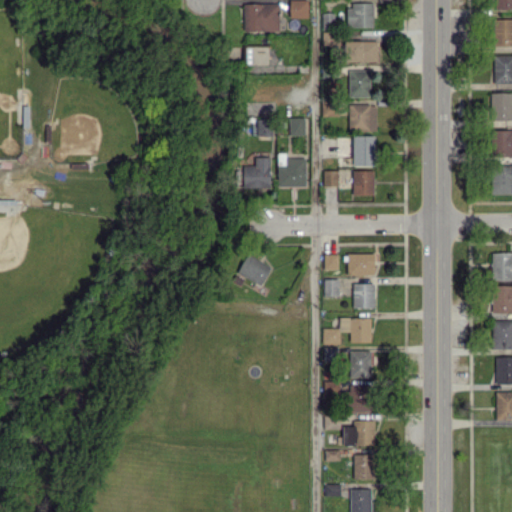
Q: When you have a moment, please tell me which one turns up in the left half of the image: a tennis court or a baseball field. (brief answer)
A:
baseball field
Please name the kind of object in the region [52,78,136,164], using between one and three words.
baseball field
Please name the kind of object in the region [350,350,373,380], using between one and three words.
house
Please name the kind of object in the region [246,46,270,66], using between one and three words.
building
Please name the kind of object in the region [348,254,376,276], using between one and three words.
house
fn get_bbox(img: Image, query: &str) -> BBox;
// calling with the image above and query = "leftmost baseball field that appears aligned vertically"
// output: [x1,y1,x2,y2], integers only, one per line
[0,86,20,160]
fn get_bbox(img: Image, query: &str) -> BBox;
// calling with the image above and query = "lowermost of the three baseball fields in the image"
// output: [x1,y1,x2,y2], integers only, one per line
[0,211,118,366]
